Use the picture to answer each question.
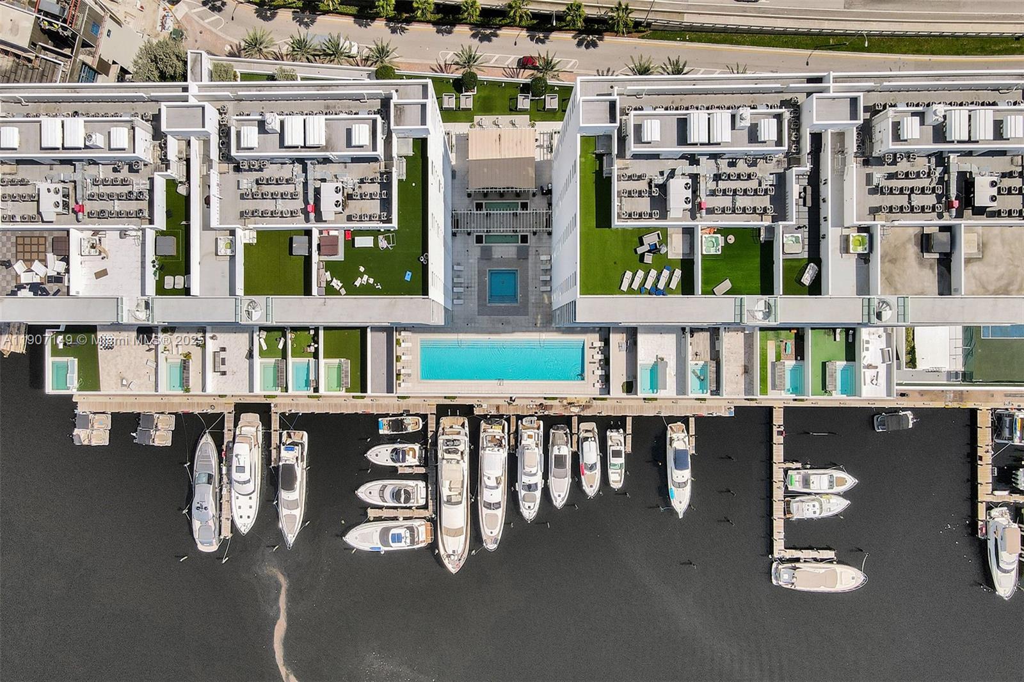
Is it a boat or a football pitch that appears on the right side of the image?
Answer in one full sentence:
There is a boat on the right side of the image.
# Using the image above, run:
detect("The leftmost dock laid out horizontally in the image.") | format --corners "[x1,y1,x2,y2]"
[77,402,237,416]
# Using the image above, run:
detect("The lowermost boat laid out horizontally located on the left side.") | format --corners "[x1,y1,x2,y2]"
[343,516,436,551]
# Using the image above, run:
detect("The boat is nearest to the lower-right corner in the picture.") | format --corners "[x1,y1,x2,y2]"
[981,504,1024,600]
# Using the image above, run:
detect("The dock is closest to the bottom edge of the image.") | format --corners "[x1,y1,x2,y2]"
[784,546,839,563]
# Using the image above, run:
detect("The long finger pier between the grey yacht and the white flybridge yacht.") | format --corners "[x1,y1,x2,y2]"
[217,412,238,539]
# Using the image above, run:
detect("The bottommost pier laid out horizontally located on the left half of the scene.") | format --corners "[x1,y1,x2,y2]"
[367,505,426,520]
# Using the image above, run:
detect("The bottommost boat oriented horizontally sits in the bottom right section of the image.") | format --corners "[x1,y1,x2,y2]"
[768,558,869,591]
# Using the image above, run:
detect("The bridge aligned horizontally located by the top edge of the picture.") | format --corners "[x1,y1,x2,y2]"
[394,0,1024,39]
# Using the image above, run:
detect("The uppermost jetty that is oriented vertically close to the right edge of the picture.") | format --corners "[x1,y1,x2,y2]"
[971,407,999,502]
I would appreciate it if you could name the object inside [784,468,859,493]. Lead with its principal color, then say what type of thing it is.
white boat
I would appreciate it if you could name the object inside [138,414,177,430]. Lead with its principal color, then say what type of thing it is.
gray boat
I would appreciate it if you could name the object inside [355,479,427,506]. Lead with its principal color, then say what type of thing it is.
white boat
